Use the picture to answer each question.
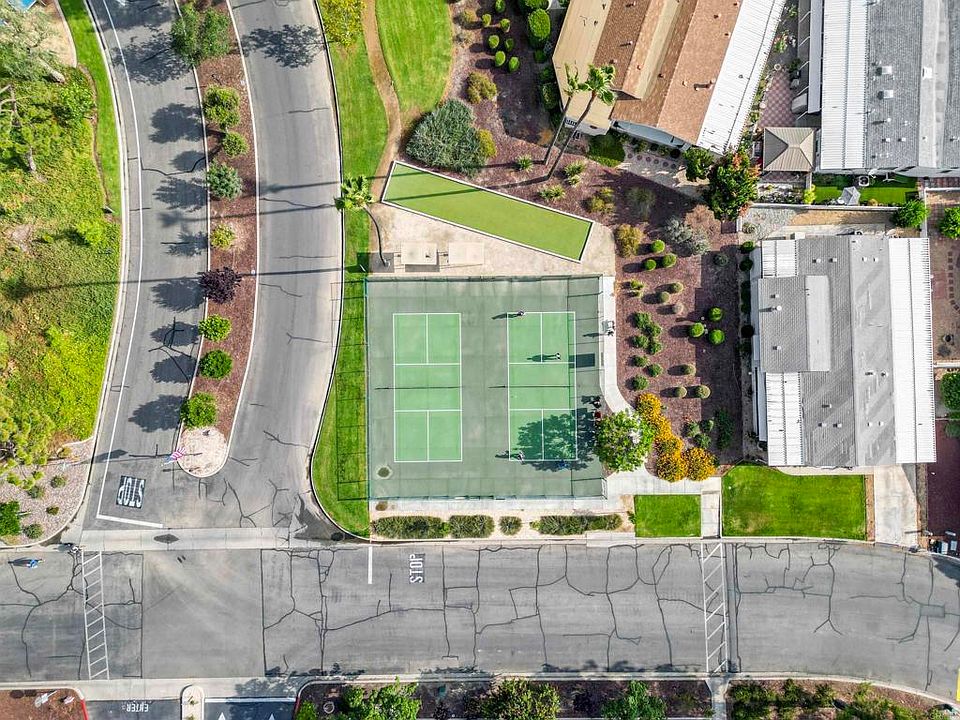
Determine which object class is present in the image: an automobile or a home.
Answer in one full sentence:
This aerial view contains a home.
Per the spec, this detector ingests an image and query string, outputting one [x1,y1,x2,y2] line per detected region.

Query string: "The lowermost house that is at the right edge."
[750,237,937,466]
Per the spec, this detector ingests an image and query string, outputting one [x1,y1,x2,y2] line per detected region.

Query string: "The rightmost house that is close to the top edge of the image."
[801,0,960,182]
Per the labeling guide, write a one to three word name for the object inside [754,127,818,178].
gazebo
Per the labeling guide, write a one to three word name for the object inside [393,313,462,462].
sports court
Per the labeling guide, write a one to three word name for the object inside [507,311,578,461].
sports court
